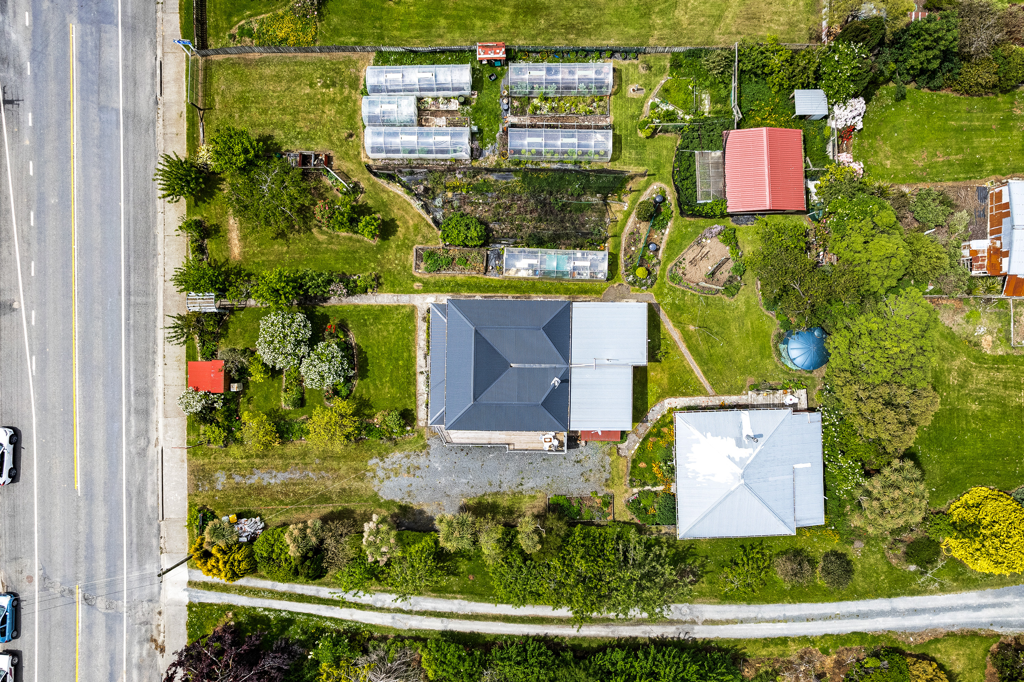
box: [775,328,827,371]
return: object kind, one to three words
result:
water tank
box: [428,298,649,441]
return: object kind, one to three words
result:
house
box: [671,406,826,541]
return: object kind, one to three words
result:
house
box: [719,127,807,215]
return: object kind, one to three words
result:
shed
